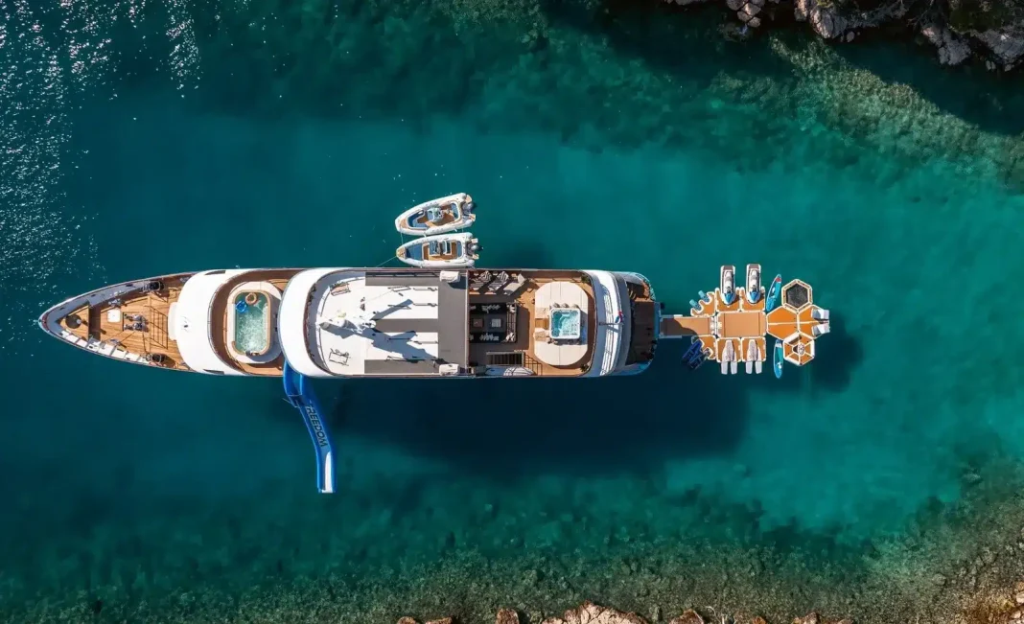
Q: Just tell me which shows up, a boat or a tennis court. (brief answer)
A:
boat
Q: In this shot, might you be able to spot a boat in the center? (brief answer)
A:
Yes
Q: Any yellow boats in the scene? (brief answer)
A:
No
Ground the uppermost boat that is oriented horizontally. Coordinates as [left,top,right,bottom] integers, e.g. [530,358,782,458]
[398,193,479,234]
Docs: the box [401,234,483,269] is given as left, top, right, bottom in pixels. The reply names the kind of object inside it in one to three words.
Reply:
boat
